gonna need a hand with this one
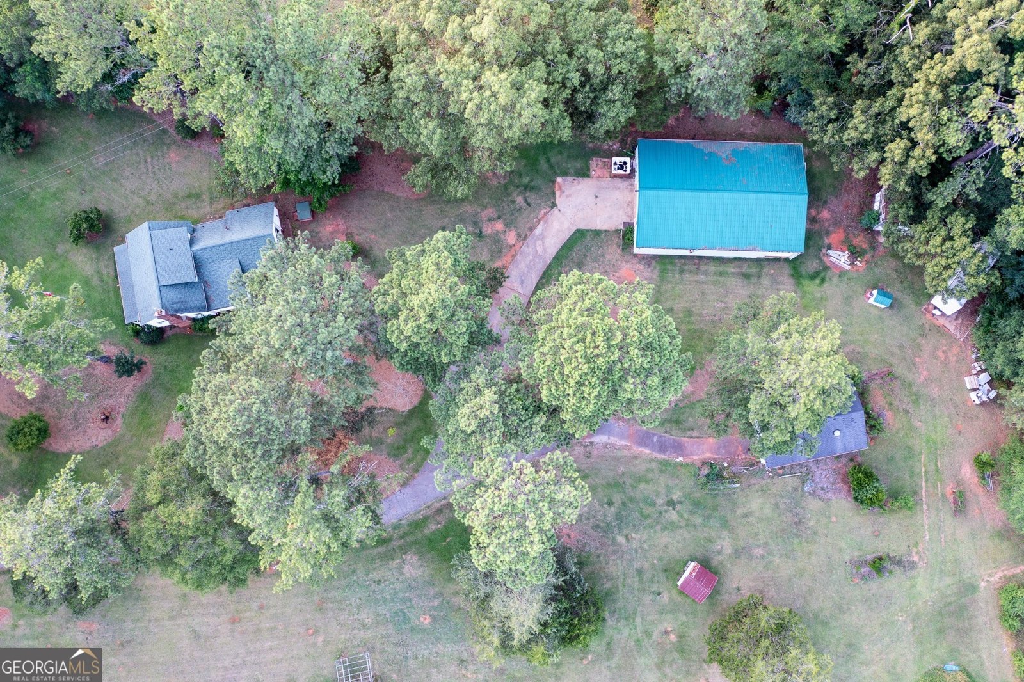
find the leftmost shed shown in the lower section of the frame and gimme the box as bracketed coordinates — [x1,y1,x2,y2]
[673,556,718,603]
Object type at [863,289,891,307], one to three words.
building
